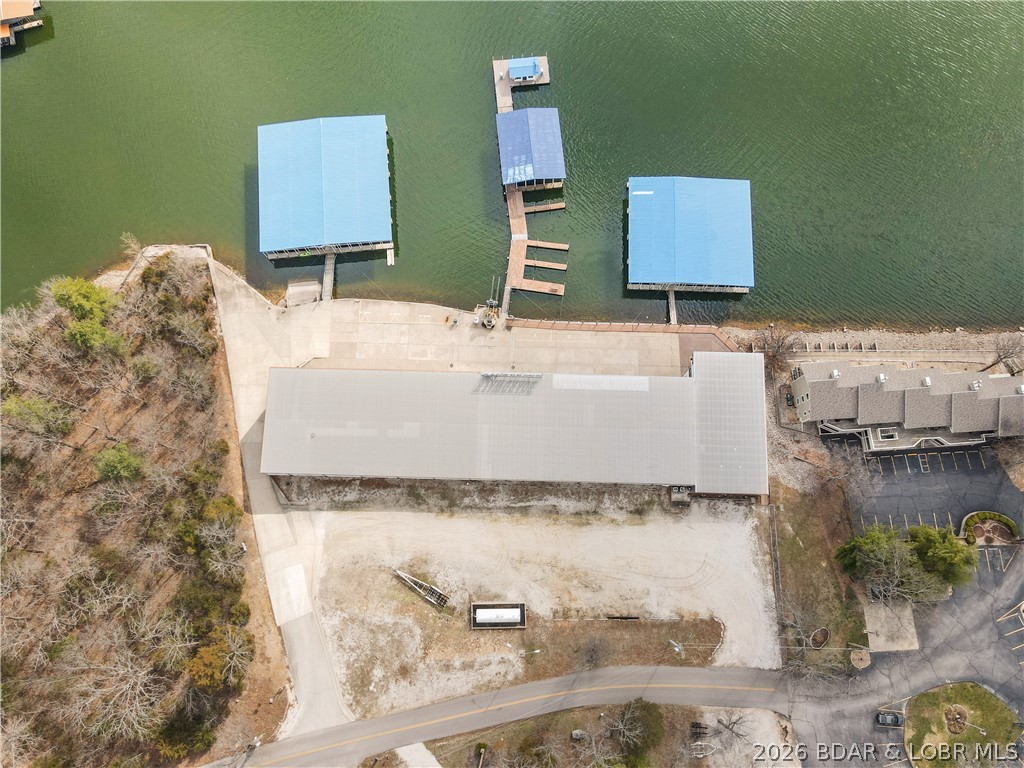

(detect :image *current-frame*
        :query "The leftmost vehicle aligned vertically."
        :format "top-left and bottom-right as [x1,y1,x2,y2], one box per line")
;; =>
[481,282,498,329]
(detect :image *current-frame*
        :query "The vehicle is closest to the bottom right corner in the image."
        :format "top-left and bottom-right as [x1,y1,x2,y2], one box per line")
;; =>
[878,714,906,728]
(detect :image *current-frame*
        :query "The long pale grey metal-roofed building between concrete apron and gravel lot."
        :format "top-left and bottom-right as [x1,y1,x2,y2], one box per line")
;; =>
[261,352,769,504]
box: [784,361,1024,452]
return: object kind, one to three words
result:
building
